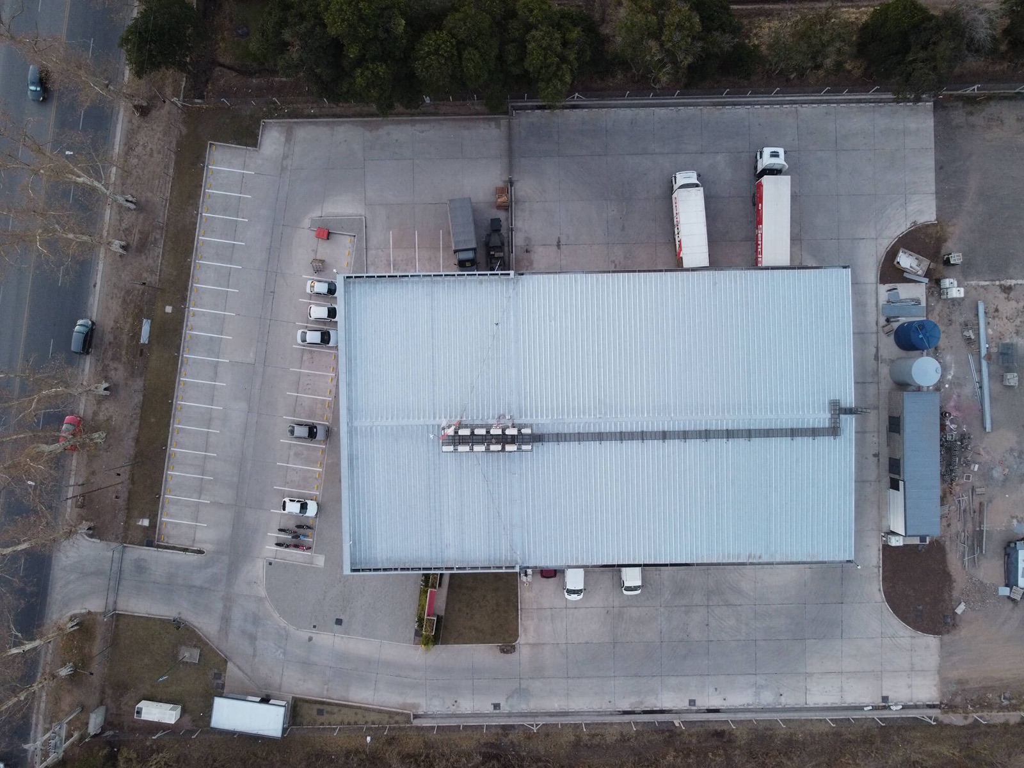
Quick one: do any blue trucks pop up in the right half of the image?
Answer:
No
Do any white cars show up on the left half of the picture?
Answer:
Yes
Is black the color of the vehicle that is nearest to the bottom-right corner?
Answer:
No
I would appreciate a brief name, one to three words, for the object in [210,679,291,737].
building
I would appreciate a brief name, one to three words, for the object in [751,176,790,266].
trailer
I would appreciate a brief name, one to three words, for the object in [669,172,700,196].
truck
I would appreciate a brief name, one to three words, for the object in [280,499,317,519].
car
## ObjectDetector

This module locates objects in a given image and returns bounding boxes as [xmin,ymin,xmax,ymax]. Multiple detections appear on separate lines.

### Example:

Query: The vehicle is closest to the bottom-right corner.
[623,569,643,594]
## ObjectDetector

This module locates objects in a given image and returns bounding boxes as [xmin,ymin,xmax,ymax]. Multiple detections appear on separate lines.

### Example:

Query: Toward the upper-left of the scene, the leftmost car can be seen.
[22,61,46,101]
